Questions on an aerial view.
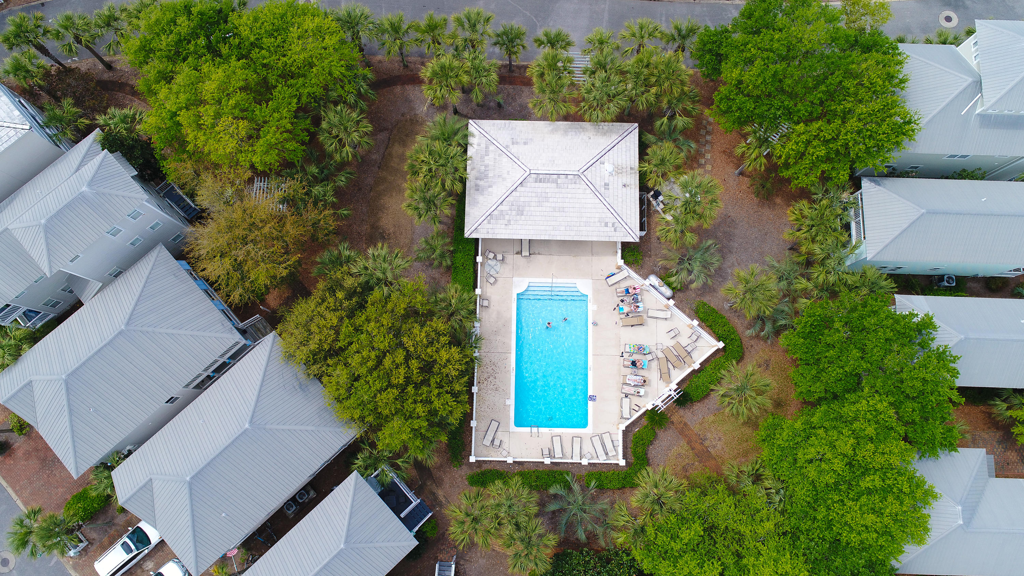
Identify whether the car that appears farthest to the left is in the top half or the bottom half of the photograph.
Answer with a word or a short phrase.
bottom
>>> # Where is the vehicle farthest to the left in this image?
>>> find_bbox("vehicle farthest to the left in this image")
[94,520,164,576]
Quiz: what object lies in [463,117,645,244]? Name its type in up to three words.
building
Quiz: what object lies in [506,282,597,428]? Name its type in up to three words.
swimming pool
